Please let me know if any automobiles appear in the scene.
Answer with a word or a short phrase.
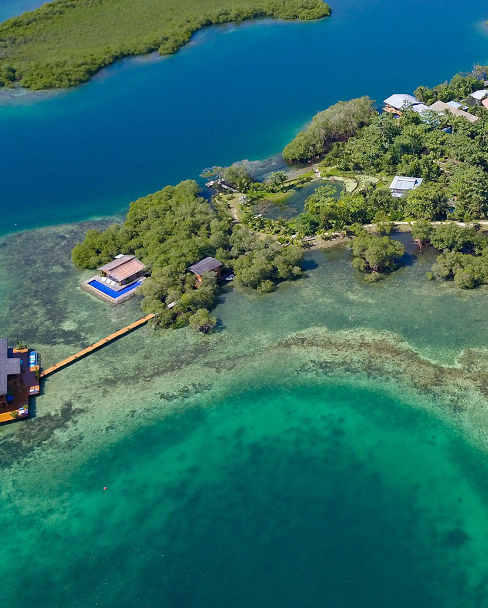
No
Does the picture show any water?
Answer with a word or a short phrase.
Yes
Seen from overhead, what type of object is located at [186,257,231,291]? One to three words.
building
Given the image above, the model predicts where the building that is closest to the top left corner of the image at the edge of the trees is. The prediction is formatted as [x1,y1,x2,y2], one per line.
[96,254,147,290]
